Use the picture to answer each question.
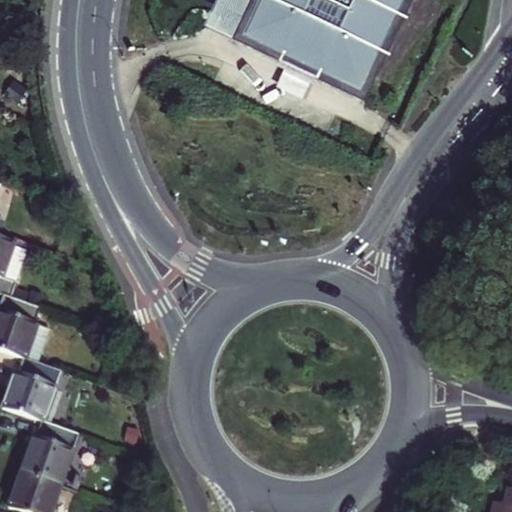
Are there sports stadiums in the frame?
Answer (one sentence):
No, I can't see a single sports stadium in this photo.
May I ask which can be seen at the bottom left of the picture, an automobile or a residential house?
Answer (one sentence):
It is a residential house that can be seen at the bottom left of the picture.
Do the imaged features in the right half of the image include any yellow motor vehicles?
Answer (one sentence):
No, there's no yellow motor vehicle to be seen in the right half of the image.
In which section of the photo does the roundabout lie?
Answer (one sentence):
You can find the roundabout in the bottom area of the picture.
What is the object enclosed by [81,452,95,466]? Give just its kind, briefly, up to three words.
umbrella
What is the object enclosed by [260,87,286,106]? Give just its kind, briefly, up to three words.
vehicle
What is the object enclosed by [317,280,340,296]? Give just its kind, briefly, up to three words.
car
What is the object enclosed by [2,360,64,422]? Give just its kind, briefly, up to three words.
house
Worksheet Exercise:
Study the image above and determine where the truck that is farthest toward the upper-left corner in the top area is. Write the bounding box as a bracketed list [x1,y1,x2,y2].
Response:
[240,63,268,92]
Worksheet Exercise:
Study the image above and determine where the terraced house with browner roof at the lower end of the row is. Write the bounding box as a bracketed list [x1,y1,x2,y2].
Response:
[6,471,63,512]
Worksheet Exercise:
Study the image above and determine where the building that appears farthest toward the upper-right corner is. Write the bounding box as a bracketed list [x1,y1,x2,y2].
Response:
[236,0,410,98]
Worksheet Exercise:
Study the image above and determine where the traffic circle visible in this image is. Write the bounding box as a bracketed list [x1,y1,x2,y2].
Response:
[152,261,428,512]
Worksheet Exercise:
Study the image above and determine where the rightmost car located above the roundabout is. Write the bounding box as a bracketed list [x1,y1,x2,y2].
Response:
[346,236,362,256]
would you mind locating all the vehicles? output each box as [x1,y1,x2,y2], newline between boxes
[317,280,340,296]
[240,63,268,92]
[342,493,356,512]
[260,87,286,106]
[346,236,362,256]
